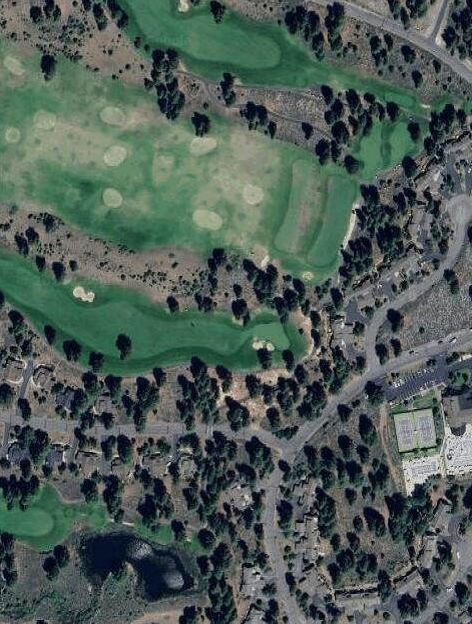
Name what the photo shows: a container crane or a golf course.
golf course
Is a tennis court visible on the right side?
Yes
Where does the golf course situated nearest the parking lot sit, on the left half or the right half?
left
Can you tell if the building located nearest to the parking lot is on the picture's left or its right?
right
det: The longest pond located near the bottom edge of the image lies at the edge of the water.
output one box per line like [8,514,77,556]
[78,531,193,602]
